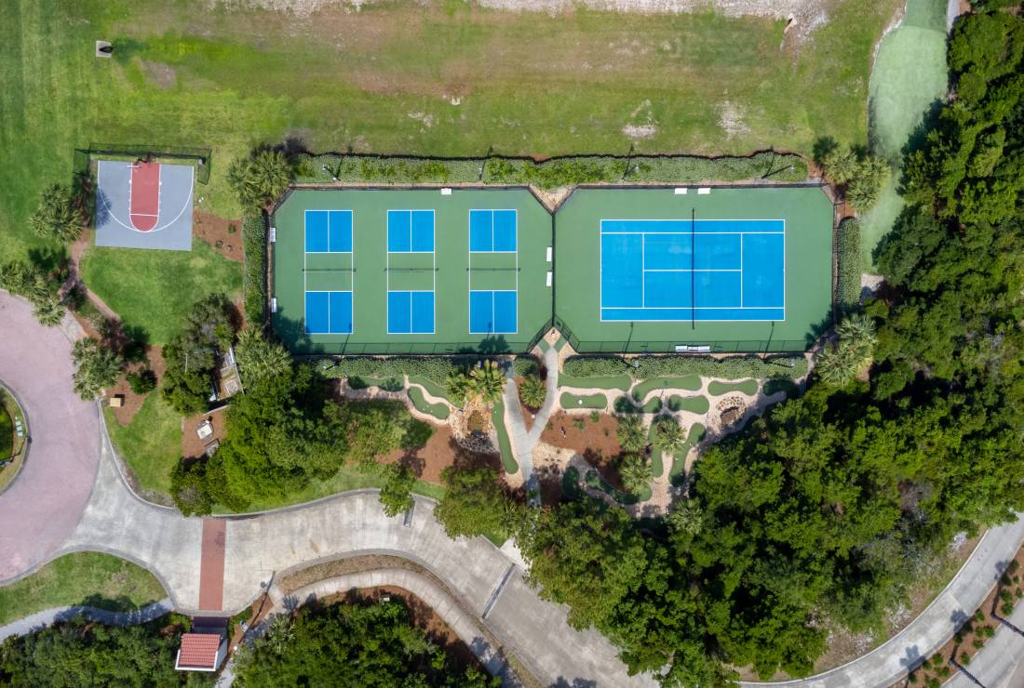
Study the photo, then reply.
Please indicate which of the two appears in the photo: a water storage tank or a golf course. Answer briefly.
golf course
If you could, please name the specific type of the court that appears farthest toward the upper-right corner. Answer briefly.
tennis court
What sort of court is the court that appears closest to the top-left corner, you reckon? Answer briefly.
basketball court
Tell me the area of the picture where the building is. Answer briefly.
bottom left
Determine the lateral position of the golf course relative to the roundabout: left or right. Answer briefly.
right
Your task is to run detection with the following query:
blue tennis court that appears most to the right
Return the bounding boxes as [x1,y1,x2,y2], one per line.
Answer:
[601,219,785,321]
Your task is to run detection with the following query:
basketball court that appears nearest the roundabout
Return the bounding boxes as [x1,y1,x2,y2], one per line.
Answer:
[95,160,194,251]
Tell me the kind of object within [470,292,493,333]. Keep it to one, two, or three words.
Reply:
sports court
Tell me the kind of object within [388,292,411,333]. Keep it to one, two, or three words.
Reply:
sports court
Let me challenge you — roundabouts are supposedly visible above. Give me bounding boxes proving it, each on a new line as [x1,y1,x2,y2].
[0,290,101,582]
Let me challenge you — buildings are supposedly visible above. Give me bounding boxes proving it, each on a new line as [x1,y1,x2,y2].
[178,617,229,672]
